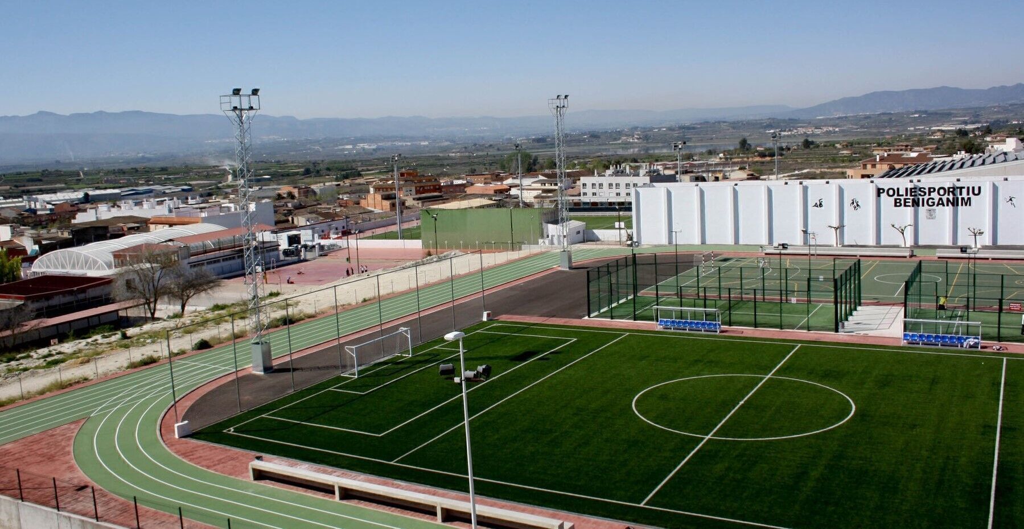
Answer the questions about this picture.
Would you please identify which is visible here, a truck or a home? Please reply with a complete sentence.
There is a home in the scene.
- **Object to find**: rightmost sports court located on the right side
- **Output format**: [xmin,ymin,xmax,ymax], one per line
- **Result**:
[904,259,1024,343]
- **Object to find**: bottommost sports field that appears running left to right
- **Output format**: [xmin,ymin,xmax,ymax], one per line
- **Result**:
[175,318,1024,529]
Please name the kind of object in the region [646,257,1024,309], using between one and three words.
sports court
